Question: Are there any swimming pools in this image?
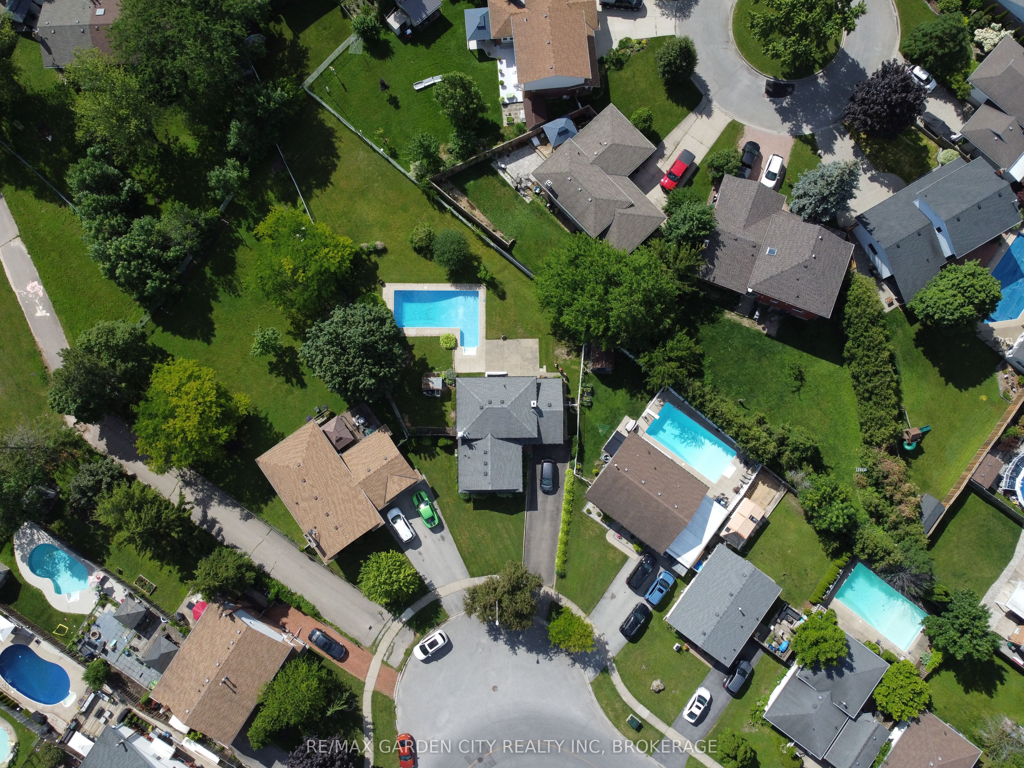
Yes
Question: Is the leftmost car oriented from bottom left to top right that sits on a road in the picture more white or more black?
white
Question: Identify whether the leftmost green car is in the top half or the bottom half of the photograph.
bottom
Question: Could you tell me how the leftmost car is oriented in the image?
diagonally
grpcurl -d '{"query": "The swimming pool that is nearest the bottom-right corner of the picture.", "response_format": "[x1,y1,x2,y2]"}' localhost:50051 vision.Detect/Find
[835,564,924,652]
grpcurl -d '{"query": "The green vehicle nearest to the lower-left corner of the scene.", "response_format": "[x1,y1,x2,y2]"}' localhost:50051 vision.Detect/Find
[412,489,439,529]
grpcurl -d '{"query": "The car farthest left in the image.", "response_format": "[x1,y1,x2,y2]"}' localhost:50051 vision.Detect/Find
[309,626,345,659]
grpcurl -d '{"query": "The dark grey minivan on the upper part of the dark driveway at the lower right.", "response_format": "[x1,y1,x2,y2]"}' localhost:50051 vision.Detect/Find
[722,657,753,698]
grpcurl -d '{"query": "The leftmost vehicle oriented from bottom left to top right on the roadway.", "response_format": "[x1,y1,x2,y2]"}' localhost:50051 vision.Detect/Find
[412,628,449,661]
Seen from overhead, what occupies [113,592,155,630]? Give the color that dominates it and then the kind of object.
gray gazebo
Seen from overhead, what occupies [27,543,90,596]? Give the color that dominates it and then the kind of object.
blue swimming pool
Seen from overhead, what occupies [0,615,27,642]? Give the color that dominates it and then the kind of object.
white gazebo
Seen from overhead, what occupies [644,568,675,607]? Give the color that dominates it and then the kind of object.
blue car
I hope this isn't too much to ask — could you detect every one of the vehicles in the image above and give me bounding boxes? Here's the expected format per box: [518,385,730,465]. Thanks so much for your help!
[309,626,345,659]
[412,489,439,529]
[722,657,753,698]
[644,568,675,607]
[682,685,711,724]
[660,148,695,191]
[738,140,761,178]
[398,732,416,768]
[619,601,650,642]
[412,628,449,661]
[759,152,783,188]
[623,550,657,594]
[904,63,938,96]
[387,505,415,544]
[538,457,556,493]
